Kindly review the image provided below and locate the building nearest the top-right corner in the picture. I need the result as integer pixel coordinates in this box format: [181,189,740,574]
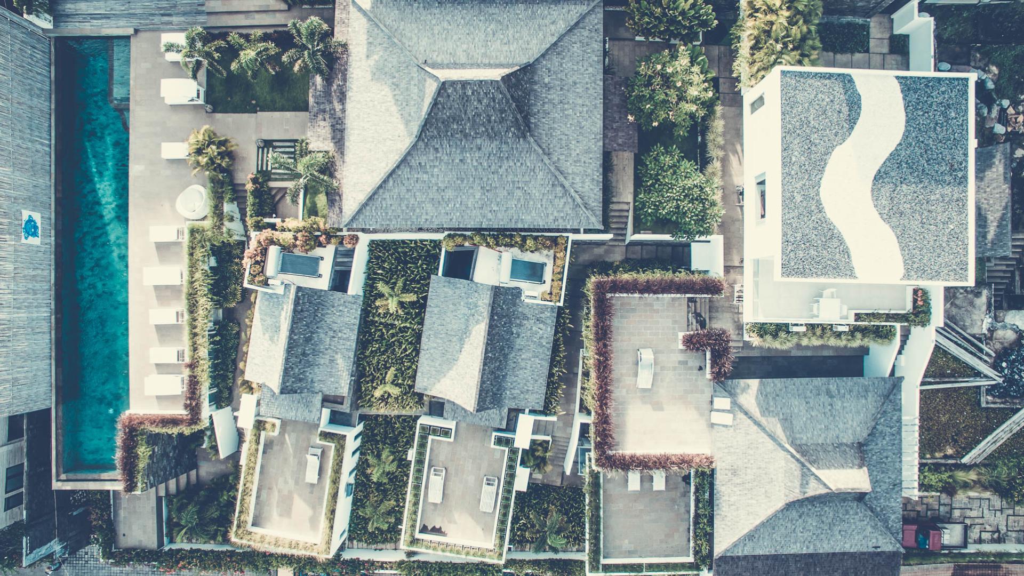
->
[742,68,978,326]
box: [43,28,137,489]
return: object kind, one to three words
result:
swimming pool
